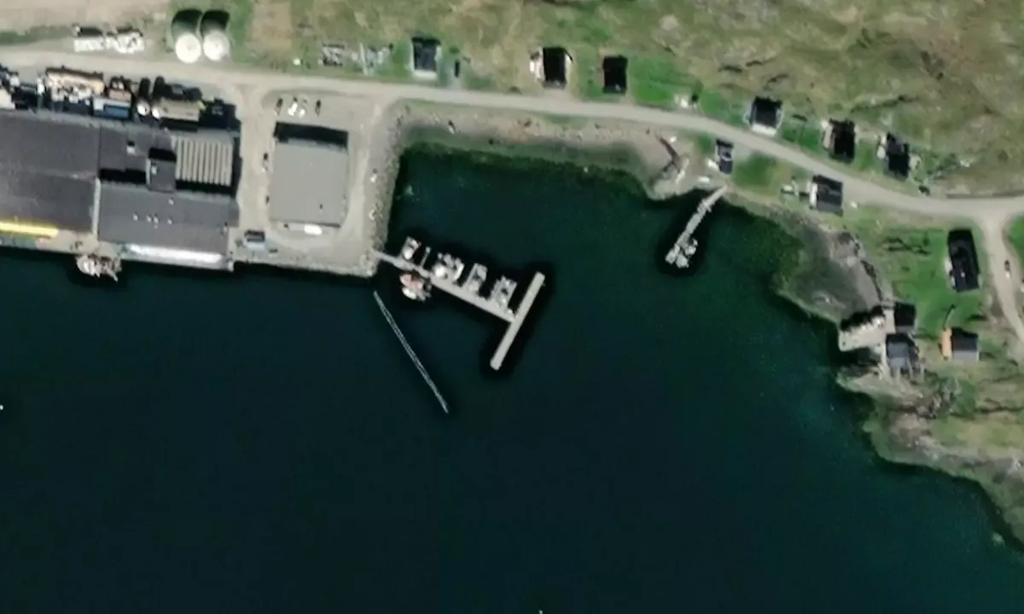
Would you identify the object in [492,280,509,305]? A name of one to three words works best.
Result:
boat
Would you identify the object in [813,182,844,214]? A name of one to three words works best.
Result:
house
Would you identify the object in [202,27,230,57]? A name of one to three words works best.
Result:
storage tank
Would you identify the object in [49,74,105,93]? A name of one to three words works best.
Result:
shed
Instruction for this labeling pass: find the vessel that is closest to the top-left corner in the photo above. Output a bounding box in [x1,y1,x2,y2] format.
[78,258,121,280]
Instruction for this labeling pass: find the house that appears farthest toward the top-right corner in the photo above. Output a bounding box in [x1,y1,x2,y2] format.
[885,148,910,174]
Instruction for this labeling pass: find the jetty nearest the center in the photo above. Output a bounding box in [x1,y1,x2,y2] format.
[376,247,545,371]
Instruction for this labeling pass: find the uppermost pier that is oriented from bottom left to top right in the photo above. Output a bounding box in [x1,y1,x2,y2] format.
[665,187,727,262]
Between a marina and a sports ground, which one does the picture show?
marina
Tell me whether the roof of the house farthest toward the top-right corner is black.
Yes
